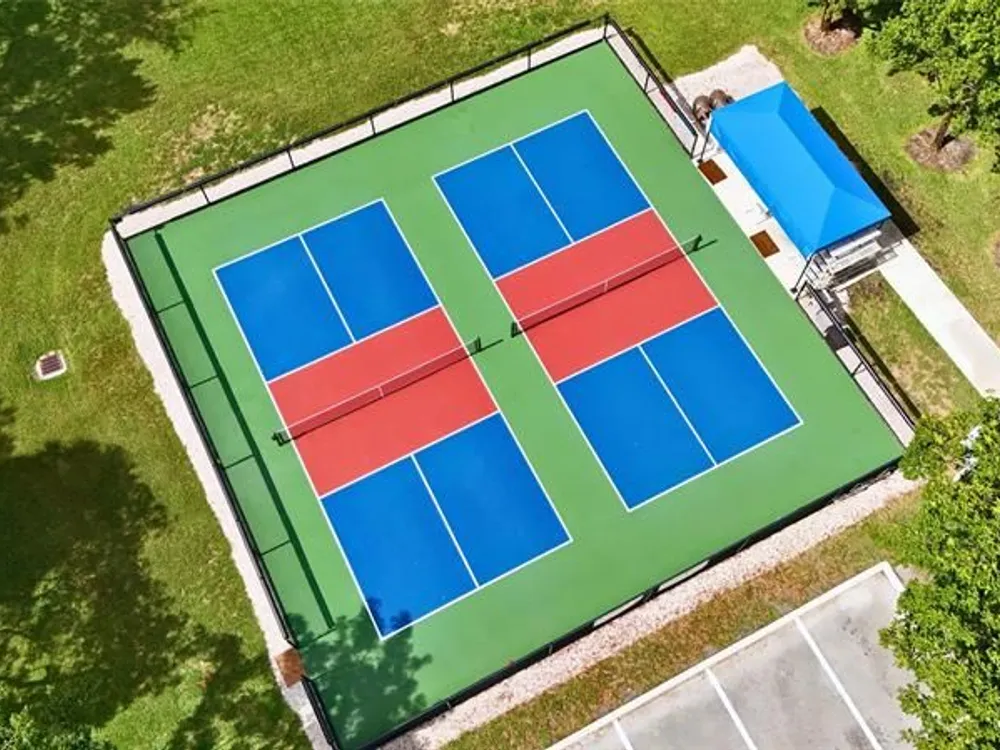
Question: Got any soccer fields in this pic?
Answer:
No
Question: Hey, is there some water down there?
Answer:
No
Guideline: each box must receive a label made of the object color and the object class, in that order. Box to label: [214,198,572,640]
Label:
blue sports court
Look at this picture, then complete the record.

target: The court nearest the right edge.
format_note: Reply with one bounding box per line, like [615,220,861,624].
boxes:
[433,111,801,511]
